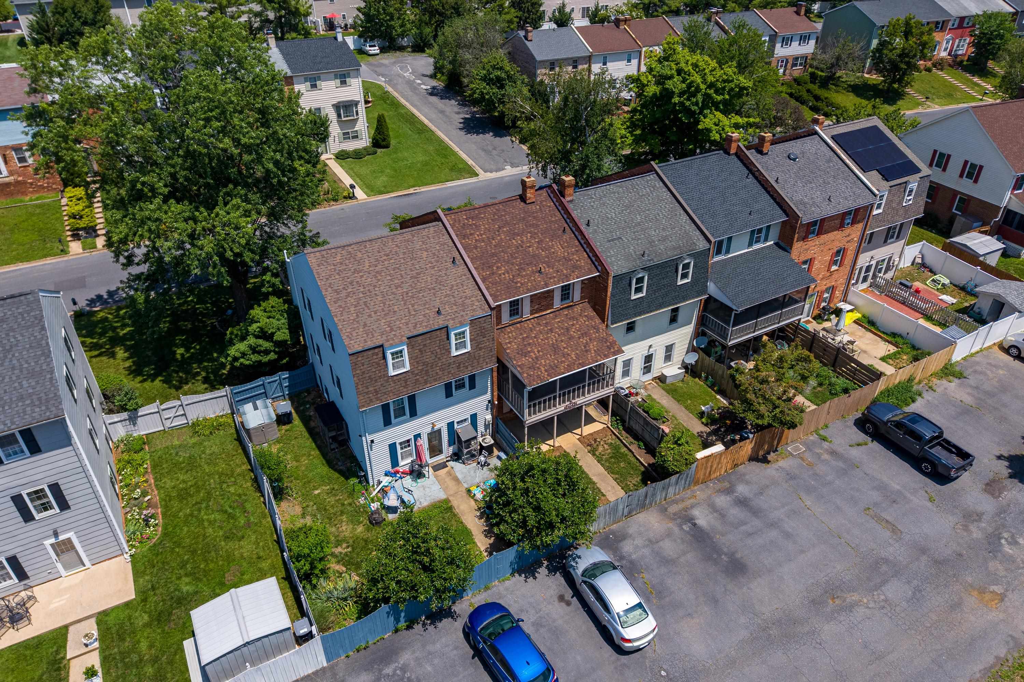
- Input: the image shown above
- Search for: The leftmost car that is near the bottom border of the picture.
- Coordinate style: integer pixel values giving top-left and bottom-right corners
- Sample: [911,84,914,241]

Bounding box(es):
[466,600,561,682]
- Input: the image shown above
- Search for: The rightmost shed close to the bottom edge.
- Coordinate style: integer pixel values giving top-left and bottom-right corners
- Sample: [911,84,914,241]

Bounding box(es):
[190,578,297,682]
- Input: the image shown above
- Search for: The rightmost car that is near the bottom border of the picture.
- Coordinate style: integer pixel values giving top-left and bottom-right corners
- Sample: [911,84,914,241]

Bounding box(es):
[565,543,660,652]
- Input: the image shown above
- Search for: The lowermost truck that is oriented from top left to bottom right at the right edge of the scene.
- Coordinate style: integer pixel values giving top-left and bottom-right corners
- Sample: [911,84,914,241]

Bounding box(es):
[860,402,983,485]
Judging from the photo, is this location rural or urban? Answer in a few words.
urban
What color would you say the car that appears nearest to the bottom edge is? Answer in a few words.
blue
